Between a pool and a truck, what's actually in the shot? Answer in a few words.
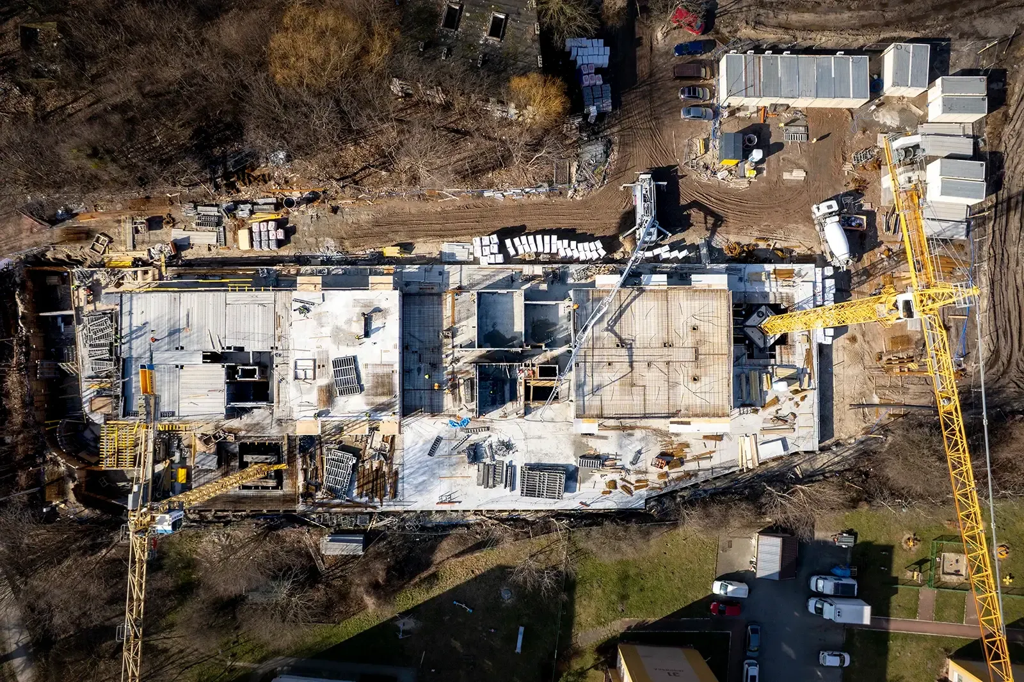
truck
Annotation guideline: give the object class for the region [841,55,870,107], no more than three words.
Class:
building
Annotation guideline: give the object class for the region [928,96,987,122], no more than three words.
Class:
building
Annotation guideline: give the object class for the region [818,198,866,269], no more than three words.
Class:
truck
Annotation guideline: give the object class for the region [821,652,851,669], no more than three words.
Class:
car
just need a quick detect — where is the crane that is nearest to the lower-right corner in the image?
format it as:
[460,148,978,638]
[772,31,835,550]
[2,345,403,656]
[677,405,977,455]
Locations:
[733,139,1016,682]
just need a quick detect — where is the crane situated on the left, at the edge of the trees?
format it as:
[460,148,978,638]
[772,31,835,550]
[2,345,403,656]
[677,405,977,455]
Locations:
[97,372,283,682]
